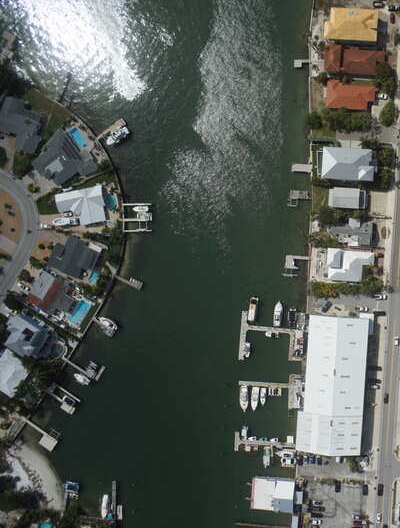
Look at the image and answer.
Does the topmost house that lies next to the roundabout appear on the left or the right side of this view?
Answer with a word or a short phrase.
left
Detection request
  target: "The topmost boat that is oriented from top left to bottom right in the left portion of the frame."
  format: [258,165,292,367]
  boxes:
[100,320,121,336]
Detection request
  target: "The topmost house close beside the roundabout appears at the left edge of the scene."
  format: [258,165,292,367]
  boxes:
[0,95,50,155]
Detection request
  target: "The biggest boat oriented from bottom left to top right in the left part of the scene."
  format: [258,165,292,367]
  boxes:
[110,125,133,143]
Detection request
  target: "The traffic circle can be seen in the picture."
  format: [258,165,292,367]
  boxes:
[0,170,41,284]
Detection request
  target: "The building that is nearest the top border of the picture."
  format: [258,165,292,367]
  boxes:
[323,7,378,46]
